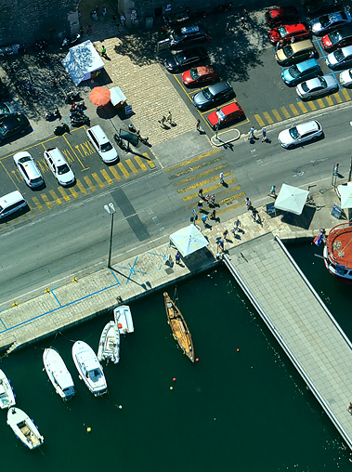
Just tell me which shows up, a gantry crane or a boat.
boat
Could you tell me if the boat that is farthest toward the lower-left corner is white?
Yes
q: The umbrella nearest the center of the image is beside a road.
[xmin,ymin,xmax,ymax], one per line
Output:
[167,222,212,260]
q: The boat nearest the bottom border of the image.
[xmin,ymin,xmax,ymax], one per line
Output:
[9,405,47,456]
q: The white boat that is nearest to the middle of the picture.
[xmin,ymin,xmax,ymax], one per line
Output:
[114,305,136,339]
